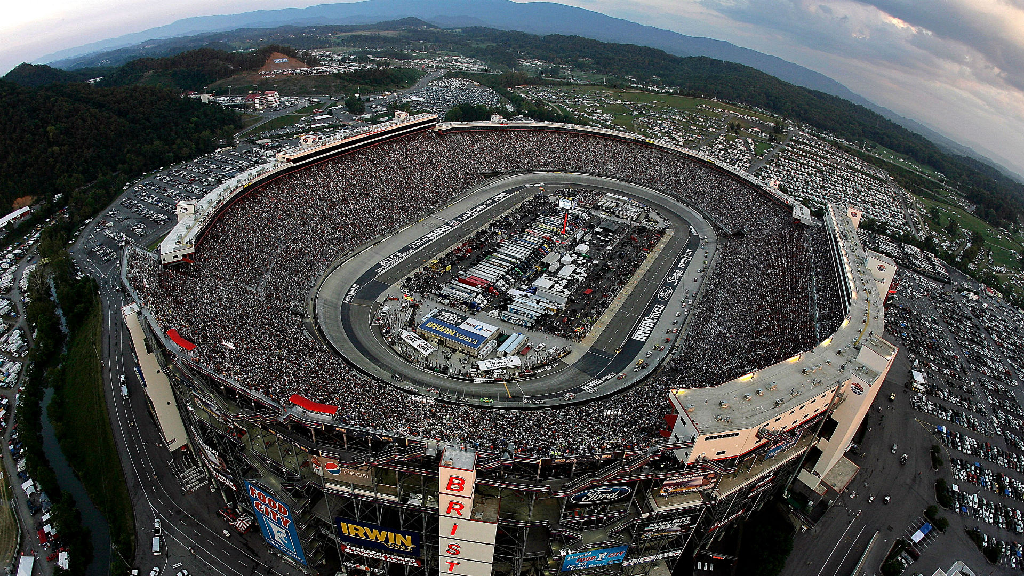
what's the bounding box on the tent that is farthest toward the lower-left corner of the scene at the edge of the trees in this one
[16,556,37,576]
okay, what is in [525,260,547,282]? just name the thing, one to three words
truck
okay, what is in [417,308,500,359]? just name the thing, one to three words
building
